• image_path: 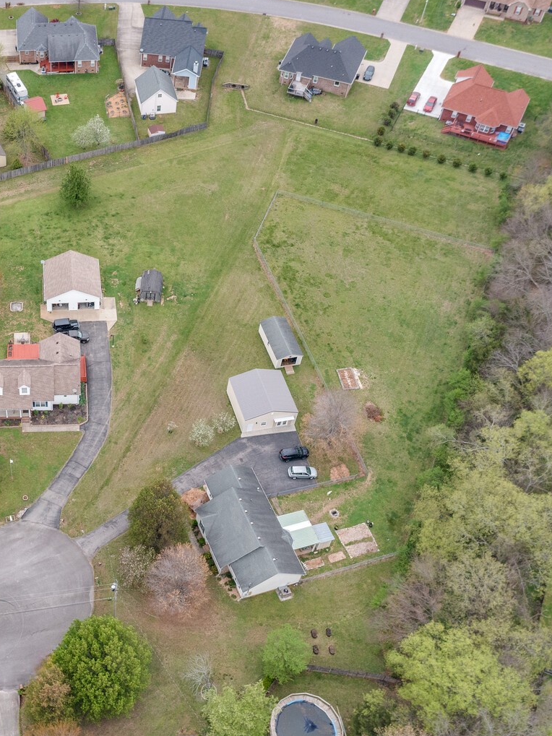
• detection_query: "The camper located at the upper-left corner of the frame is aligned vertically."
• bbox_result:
[8,73,26,108]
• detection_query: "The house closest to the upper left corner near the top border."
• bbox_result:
[15,5,96,71]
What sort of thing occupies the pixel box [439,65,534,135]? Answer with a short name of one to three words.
house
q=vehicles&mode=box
[362,65,373,79]
[406,94,420,107]
[287,465,318,480]
[278,446,310,462]
[8,73,26,108]
[53,317,80,331]
[59,328,90,344]
[424,97,436,112]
